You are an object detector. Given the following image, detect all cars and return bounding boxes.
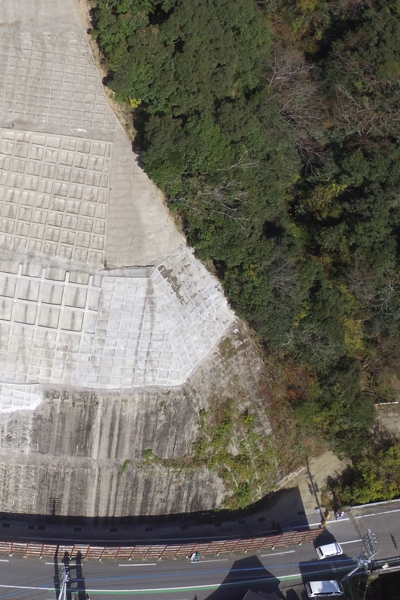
[314,543,341,561]
[304,579,343,599]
